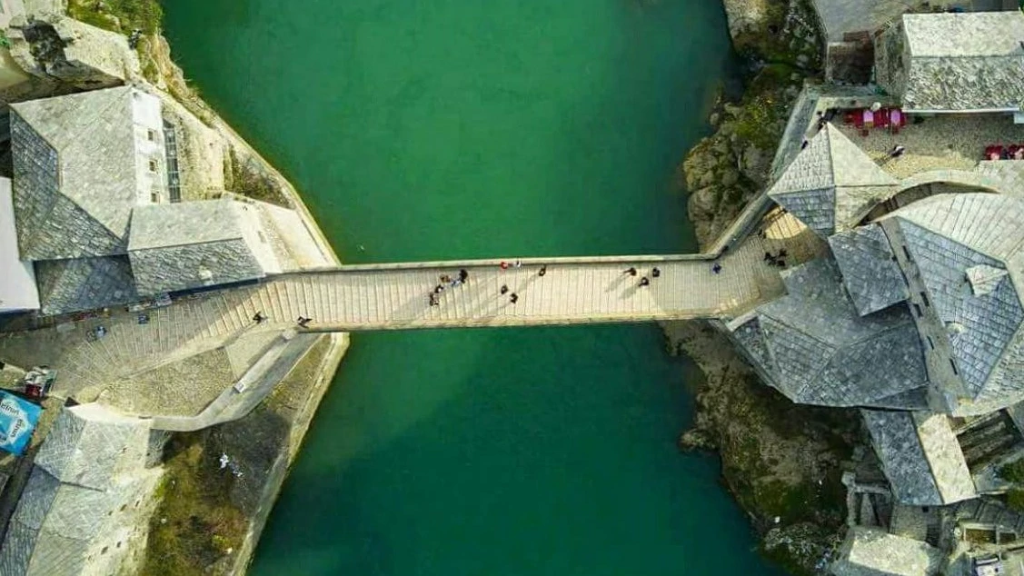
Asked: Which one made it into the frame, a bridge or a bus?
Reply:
bridge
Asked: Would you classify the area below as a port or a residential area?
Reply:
residential area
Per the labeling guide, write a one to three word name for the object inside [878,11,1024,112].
house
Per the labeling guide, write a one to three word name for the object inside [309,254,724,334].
bridge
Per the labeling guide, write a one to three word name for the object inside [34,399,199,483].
house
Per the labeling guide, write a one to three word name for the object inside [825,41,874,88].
shed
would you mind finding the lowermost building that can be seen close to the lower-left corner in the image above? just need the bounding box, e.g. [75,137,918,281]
[0,462,168,576]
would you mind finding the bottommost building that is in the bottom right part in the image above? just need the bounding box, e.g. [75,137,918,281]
[813,518,939,576]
